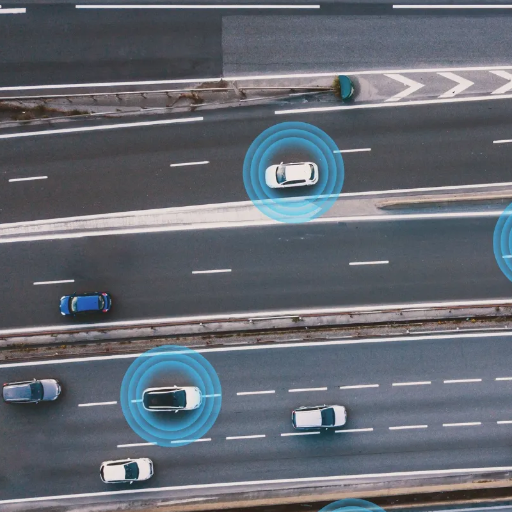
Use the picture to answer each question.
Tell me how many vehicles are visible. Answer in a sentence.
The photo contains 5 vehicles.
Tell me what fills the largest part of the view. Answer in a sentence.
What you mostly see from above here is paved ground.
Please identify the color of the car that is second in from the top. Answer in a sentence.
In this view, the car that is second in from the top is blue.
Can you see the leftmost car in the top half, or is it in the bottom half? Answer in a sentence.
It is in the bottom half that the leftmost car appears.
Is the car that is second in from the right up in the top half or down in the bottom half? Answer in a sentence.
Seen from above, the car that is second in from the right lies in the bottom half of the view.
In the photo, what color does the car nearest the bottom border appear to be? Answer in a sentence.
The color of the car nearest the bottom border is white.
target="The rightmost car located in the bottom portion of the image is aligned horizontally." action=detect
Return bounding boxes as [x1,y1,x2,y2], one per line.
[142,384,202,412]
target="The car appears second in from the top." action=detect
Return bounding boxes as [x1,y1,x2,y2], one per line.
[60,291,112,318]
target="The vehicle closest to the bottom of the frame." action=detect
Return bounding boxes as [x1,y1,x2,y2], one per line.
[100,456,156,485]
